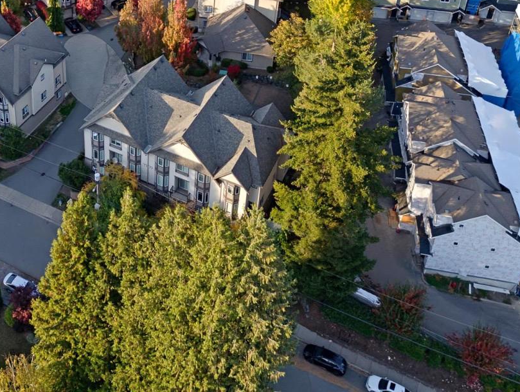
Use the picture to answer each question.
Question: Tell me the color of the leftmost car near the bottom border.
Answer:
black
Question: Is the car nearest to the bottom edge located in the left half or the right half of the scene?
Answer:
right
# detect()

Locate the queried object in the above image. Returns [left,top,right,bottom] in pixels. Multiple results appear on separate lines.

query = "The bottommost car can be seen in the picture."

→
[364,369,413,392]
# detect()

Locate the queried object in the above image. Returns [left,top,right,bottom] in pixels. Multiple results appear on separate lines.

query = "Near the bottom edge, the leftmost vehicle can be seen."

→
[303,342,351,380]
